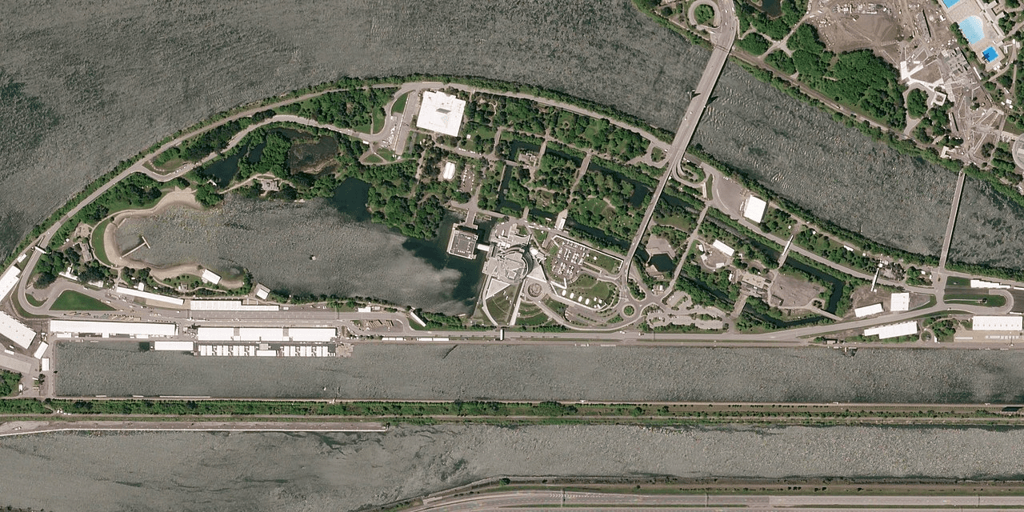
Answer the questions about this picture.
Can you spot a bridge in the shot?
Yes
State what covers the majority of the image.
water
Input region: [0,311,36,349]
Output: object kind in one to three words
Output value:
building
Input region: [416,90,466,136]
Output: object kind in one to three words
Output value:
building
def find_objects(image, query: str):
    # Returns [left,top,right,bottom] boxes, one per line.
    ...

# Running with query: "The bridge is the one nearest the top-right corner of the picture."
[940,171,965,267]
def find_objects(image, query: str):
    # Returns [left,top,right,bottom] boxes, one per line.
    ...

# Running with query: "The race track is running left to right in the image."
[18,222,1016,340]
